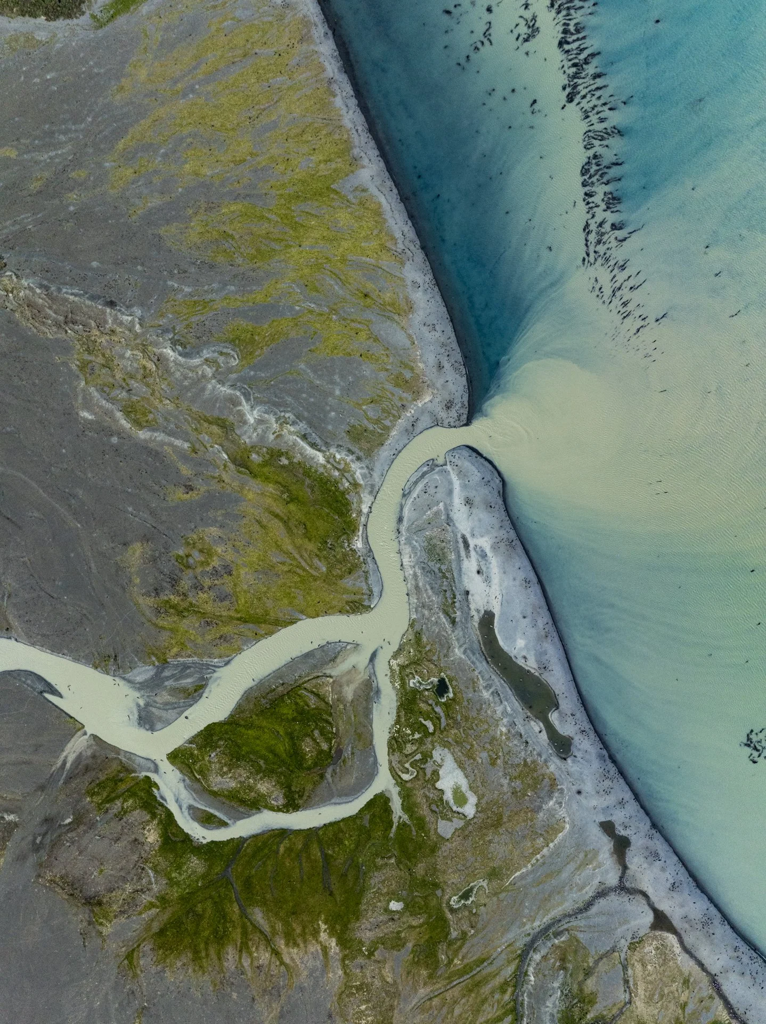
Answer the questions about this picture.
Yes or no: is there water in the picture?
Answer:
Yes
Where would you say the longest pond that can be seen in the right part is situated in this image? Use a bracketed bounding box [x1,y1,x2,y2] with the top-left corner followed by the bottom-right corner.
[478,610,573,757]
